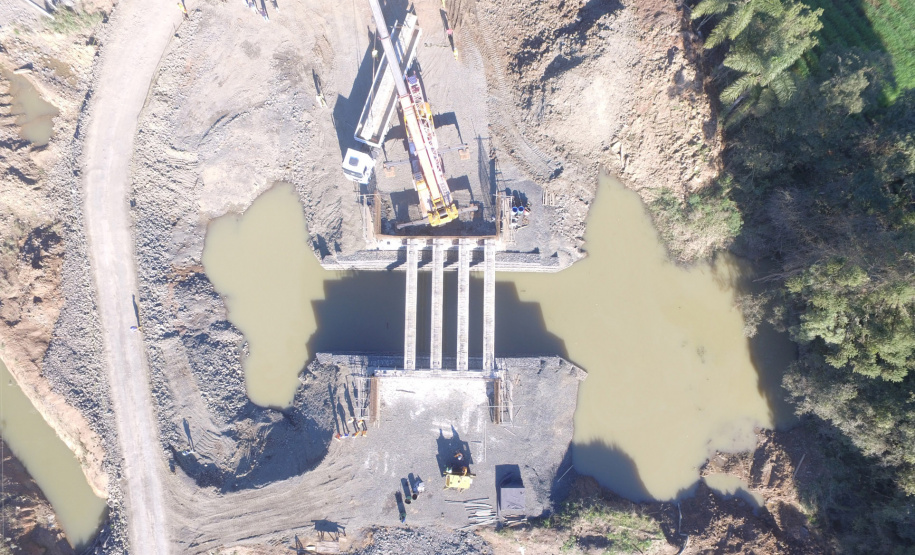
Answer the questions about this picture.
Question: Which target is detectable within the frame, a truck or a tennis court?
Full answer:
This aerial view contains a truck.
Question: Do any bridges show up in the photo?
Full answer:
Yes, I can see a bridge in this picture.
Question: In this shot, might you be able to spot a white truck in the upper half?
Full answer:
Yes, I can see a white truck in the upper half.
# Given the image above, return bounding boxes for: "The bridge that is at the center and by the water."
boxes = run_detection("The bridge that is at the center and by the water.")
[366,232,503,373]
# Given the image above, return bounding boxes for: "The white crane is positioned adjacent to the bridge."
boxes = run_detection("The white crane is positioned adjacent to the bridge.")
[367,0,483,233]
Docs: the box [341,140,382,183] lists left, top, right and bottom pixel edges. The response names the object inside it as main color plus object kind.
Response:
white truck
